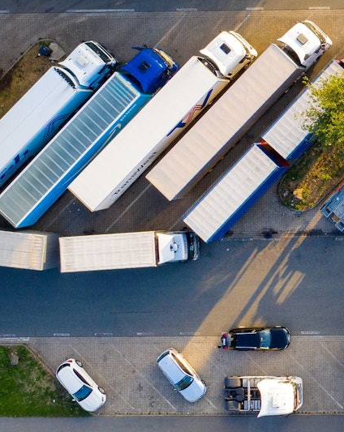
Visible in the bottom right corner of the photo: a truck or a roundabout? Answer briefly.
truck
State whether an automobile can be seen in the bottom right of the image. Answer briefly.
Yes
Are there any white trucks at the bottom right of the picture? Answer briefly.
Yes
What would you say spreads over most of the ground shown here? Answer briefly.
paved ground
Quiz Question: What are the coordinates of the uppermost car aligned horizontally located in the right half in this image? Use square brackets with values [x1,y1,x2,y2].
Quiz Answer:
[216,324,290,353]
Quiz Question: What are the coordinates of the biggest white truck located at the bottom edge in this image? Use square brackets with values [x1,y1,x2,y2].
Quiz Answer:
[225,378,303,421]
